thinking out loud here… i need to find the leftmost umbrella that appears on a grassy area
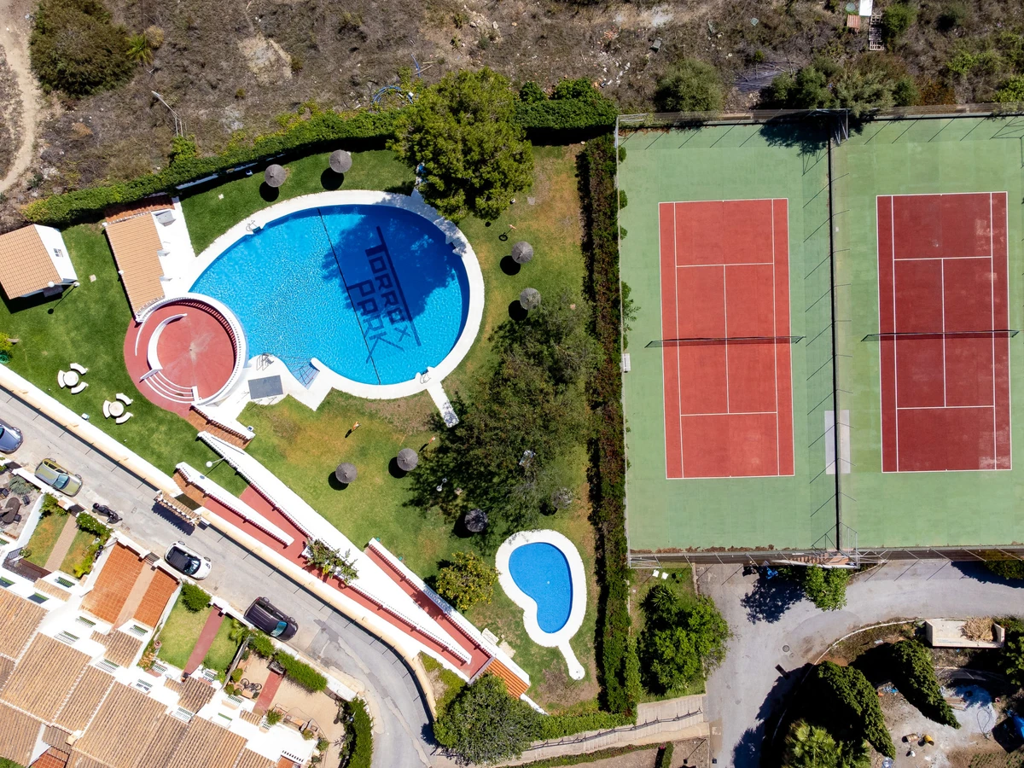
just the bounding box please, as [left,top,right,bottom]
[263,164,287,189]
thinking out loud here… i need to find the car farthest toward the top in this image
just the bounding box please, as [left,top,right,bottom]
[0,422,25,452]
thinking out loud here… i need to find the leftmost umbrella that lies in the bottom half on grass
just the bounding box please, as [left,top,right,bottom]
[335,462,358,486]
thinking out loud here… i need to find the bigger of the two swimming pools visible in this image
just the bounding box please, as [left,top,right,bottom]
[167,189,483,438]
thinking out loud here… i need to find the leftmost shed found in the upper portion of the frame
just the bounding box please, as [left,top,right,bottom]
[0,225,82,299]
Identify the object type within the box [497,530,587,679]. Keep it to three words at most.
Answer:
swimming pool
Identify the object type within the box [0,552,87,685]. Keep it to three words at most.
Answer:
house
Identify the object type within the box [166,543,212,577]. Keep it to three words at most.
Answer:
car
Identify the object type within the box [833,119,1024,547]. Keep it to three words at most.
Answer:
tennis court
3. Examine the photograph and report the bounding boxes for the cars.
[34,459,82,495]
[166,543,212,577]
[0,422,25,452]
[245,600,297,640]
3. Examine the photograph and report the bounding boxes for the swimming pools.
[167,189,483,438]
[497,530,587,679]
